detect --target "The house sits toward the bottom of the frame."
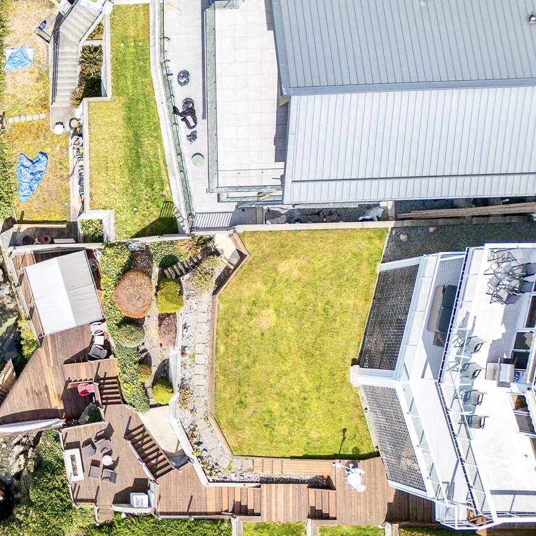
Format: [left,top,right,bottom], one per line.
[354,243,536,535]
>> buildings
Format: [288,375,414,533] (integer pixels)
[354,243,536,535]
[201,0,536,212]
